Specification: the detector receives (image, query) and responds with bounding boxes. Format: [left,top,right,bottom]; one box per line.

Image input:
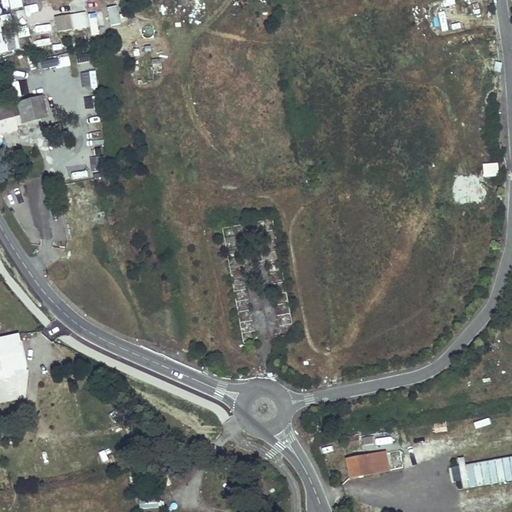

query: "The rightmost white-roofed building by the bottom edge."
[466,454,512,489]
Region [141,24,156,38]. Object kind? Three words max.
swimming pool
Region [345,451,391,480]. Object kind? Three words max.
house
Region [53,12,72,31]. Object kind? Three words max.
shed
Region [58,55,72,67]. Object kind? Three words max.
vehicle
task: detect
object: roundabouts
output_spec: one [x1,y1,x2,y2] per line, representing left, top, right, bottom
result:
[196,374,318,466]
